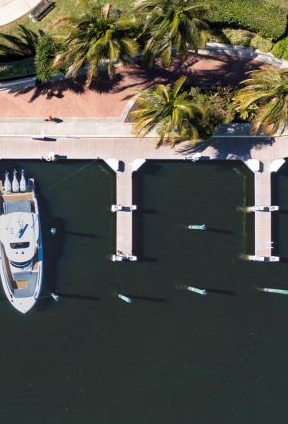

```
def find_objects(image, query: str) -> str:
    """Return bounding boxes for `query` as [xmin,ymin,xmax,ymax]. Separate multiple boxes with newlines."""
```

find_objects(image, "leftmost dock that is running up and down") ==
[104,160,145,261]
